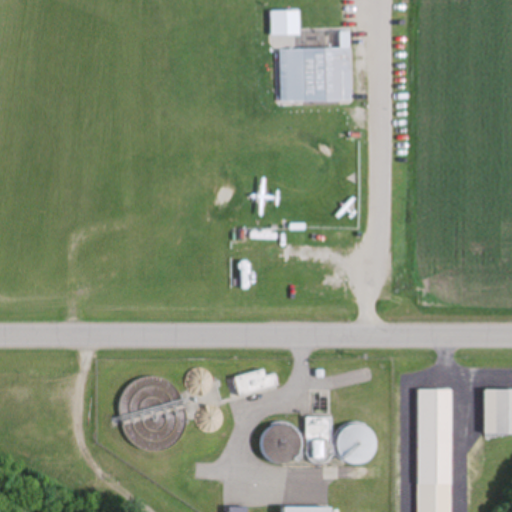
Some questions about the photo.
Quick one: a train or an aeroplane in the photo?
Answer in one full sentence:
This aerial view contains an aeroplane.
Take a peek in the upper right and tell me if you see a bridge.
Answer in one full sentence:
No, in the upper right there is no bridge.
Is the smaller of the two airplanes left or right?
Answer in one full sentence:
You can find the smaller of the two airplanes on the right side of the picture.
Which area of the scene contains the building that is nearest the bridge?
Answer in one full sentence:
The building that is nearest the bridge is in the bottom part of the image.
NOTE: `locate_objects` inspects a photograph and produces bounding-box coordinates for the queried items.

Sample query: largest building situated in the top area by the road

[280,46,352,102]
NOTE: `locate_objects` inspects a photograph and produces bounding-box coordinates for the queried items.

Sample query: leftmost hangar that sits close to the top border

[270,8,301,35]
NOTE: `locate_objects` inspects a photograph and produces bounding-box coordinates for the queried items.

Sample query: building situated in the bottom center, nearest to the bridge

[234,369,280,396]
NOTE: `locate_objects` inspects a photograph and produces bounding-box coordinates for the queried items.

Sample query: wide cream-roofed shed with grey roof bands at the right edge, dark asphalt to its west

[483,389,512,436]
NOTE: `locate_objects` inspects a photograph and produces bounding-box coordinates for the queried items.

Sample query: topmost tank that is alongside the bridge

[184,367,213,396]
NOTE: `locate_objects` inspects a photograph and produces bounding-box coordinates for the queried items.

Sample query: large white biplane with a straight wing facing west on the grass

[250,176,280,216]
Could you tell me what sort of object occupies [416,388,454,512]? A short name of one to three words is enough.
shed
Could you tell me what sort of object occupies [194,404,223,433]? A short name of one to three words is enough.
storage tank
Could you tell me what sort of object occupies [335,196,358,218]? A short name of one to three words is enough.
airplane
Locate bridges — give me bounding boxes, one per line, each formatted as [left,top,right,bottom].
[110,400,189,430]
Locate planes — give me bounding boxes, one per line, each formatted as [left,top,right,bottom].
[250,176,280,216]
[335,196,358,218]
